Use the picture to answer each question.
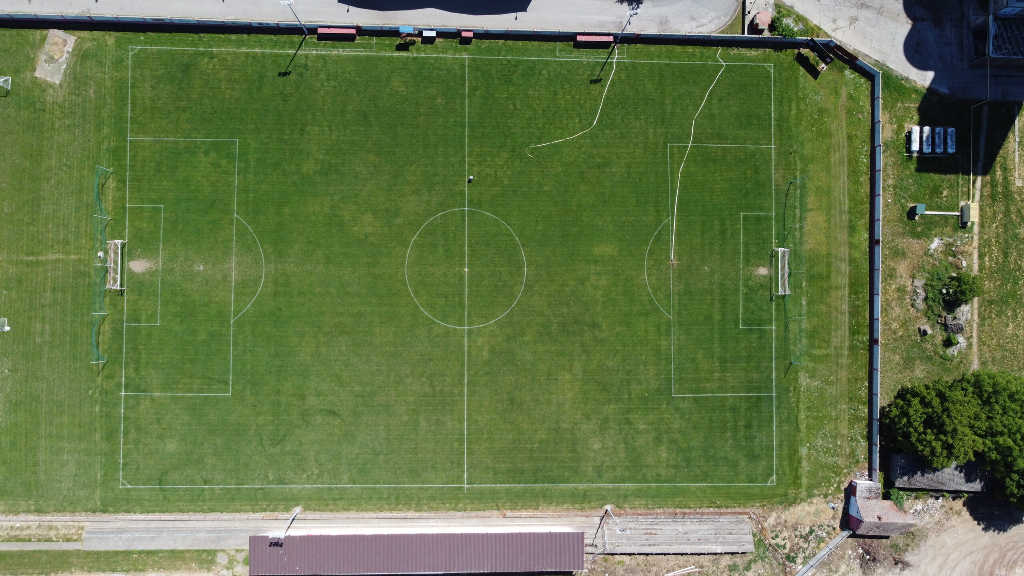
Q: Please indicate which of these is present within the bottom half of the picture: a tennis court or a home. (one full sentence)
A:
The one visible within the bottom half of the picture is a home.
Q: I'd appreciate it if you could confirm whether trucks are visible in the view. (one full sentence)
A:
No, this view has no truck in it.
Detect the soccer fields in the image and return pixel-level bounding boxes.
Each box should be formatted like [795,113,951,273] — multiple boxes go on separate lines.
[106,37,790,506]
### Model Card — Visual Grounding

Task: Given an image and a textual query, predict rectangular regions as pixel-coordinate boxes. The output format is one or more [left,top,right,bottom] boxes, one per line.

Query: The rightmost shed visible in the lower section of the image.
[885,449,992,492]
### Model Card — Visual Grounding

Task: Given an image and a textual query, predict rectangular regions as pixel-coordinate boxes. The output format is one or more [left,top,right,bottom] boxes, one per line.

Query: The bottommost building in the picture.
[848,479,917,535]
